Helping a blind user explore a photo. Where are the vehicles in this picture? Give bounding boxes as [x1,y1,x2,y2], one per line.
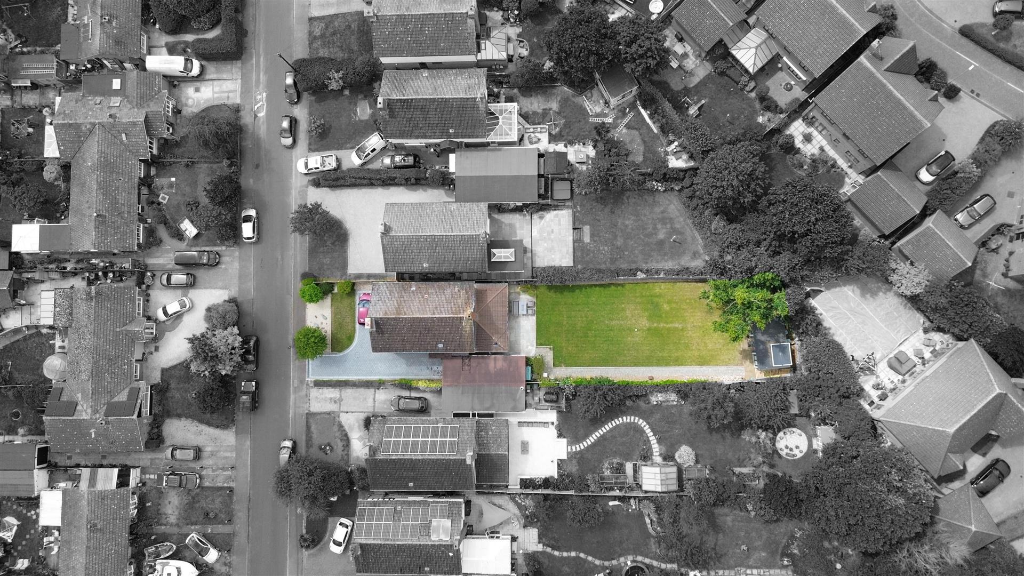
[917,150,955,183]
[282,72,301,105]
[382,151,421,170]
[143,55,205,79]
[329,516,353,554]
[278,434,297,469]
[173,249,222,268]
[953,194,997,226]
[161,271,197,289]
[157,295,194,322]
[356,292,371,326]
[240,209,259,243]
[351,132,387,166]
[237,380,258,413]
[971,459,1008,495]
[167,444,202,463]
[298,154,340,173]
[279,114,298,148]
[187,530,220,563]
[391,395,428,413]
[988,0,1024,17]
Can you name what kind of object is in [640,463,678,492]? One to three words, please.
greenhouse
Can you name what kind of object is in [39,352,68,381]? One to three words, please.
tent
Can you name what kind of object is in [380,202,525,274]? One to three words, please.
house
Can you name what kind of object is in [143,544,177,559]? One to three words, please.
boat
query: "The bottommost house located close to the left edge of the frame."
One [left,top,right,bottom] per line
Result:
[39,484,147,576]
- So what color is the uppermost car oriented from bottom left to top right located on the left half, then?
white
